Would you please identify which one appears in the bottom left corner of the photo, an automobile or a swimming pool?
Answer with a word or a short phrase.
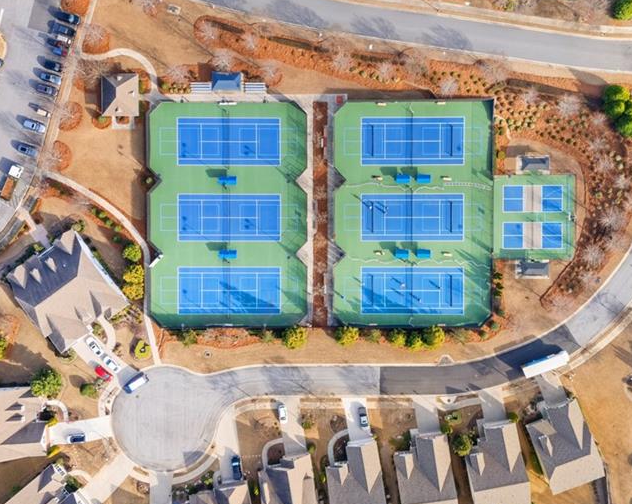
automobile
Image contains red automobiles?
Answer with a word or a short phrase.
Yes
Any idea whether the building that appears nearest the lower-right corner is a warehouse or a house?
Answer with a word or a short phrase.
house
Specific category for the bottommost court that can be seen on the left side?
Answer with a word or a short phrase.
tennis court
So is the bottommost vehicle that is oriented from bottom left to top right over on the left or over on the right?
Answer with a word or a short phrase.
left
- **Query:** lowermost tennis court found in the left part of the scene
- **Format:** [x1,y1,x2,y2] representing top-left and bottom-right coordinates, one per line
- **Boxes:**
[149,255,306,327]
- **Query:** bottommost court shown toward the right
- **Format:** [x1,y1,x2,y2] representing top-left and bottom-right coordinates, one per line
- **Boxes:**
[334,255,493,326]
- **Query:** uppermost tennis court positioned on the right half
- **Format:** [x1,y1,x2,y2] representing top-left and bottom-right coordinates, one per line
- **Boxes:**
[334,99,493,179]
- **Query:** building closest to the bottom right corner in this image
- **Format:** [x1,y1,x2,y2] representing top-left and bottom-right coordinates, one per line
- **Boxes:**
[524,398,594,495]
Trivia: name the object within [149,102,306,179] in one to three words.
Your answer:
tennis court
